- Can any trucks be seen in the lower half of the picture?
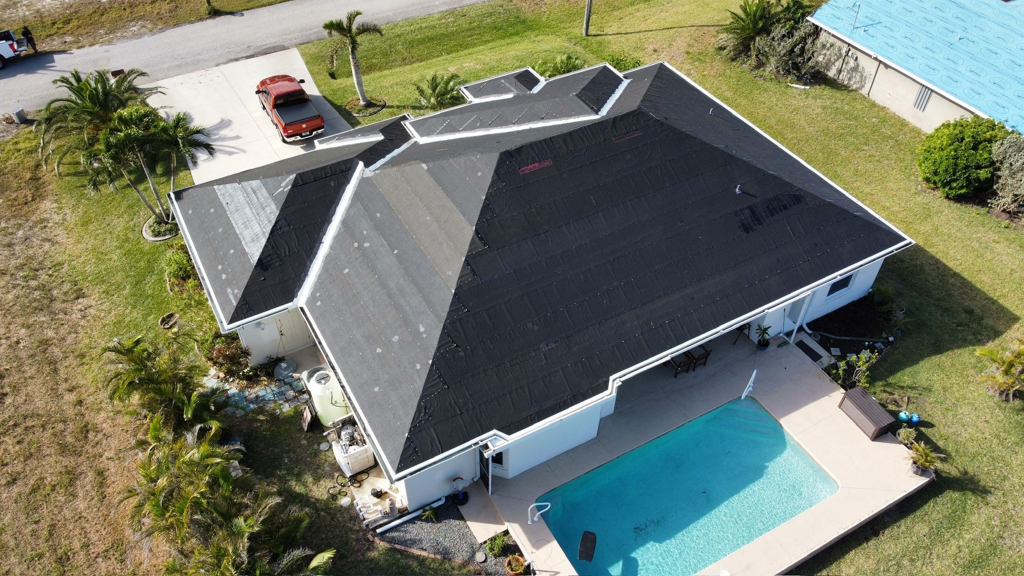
No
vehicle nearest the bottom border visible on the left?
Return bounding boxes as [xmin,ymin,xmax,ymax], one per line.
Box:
[248,72,325,143]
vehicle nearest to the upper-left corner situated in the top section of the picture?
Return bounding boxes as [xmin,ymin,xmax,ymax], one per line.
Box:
[0,27,27,69]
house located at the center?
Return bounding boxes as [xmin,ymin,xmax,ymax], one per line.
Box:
[164,63,913,511]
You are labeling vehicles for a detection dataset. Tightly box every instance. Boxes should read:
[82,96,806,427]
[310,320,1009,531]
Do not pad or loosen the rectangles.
[0,27,27,69]
[248,72,325,143]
